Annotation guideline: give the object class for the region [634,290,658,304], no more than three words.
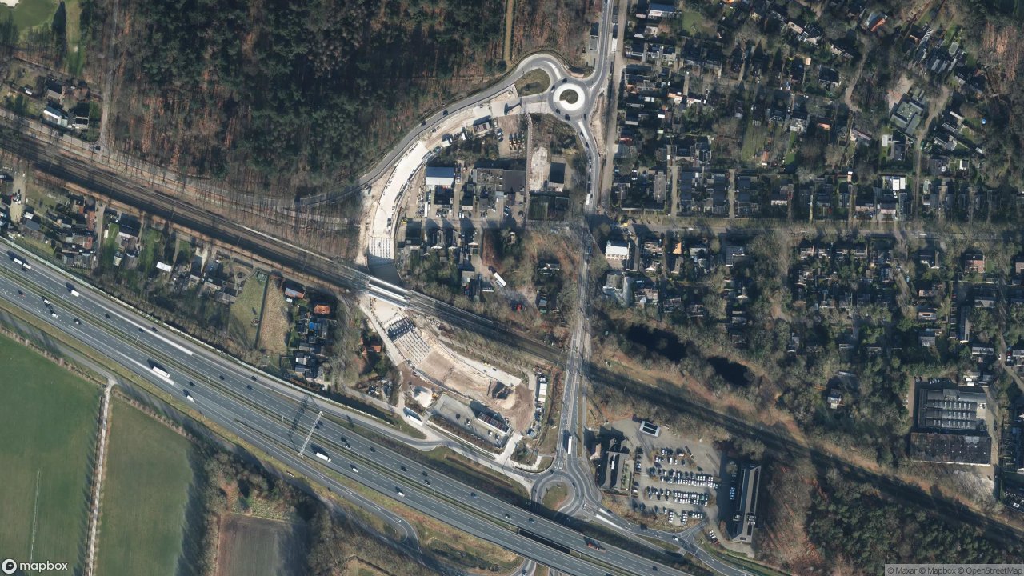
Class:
house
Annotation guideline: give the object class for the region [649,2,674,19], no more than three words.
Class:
building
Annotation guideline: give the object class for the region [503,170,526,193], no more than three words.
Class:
building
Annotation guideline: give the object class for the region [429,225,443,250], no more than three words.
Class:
house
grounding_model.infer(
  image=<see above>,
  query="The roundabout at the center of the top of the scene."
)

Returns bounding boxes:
[548,76,590,118]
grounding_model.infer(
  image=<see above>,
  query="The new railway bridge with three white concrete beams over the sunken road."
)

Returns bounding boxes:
[365,275,409,311]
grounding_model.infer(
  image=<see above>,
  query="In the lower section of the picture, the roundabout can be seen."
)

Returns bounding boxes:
[532,469,581,520]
